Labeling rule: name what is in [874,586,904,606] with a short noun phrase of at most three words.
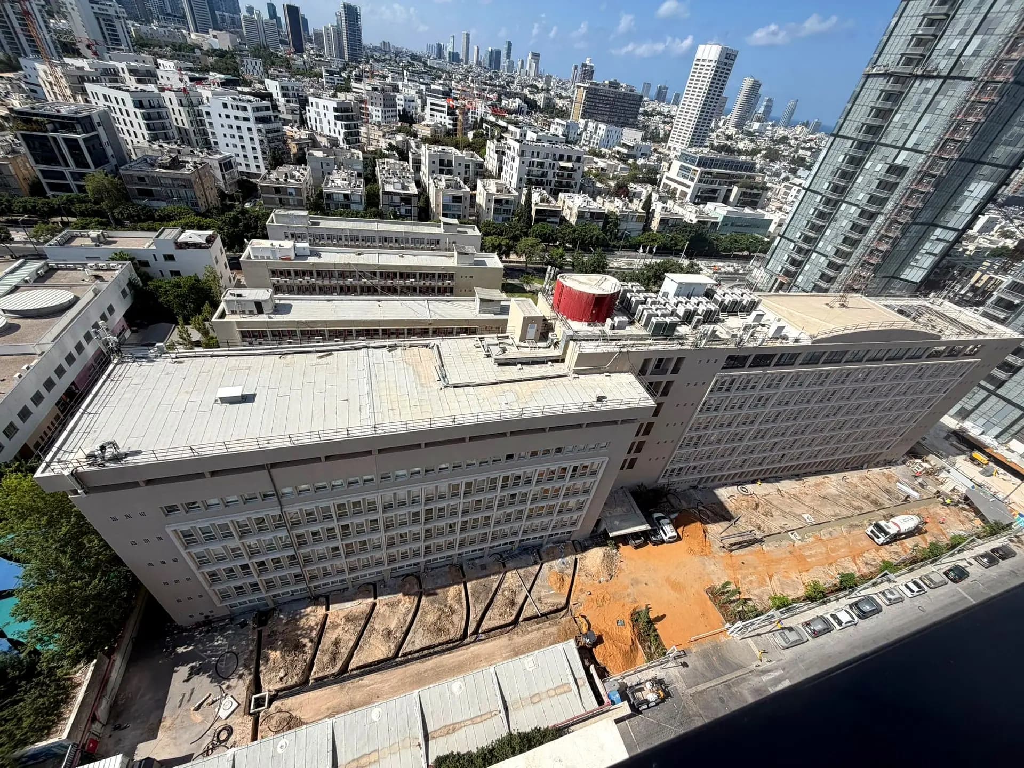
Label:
car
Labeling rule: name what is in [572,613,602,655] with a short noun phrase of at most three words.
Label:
work vehicle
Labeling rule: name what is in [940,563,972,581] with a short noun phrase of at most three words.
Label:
car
